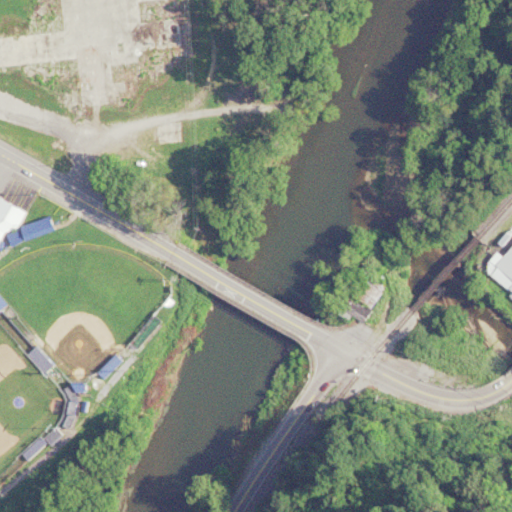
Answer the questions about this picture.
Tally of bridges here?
2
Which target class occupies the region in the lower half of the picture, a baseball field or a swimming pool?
baseball field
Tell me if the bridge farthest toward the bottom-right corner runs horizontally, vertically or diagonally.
diagonally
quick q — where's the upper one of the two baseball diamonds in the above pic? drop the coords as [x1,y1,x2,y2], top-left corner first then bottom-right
[0,244,172,384]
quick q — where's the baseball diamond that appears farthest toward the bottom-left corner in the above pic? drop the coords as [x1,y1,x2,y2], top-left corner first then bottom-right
[0,321,64,476]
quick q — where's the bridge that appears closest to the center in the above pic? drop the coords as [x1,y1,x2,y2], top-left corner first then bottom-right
[190,257,324,350]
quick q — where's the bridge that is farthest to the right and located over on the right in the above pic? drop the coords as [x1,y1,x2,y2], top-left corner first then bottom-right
[405,231,482,312]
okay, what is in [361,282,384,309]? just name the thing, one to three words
house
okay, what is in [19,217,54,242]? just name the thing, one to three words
shed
